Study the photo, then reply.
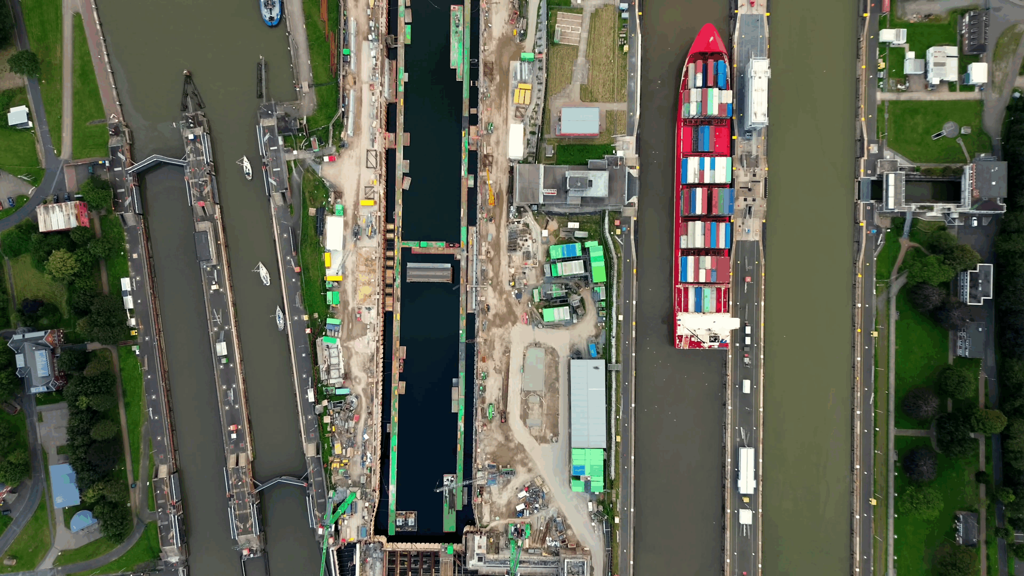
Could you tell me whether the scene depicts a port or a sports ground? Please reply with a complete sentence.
This looks like a port.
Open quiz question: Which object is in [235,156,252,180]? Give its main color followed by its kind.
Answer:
white boat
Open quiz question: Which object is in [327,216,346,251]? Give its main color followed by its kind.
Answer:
white tent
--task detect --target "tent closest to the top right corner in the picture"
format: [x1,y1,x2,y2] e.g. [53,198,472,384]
[509,124,523,161]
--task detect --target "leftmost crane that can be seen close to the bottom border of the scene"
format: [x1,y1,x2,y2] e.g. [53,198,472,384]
[318,492,357,576]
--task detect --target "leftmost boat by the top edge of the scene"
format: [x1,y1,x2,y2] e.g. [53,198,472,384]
[260,0,285,29]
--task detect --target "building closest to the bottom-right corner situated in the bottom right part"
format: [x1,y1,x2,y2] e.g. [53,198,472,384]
[947,506,975,541]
